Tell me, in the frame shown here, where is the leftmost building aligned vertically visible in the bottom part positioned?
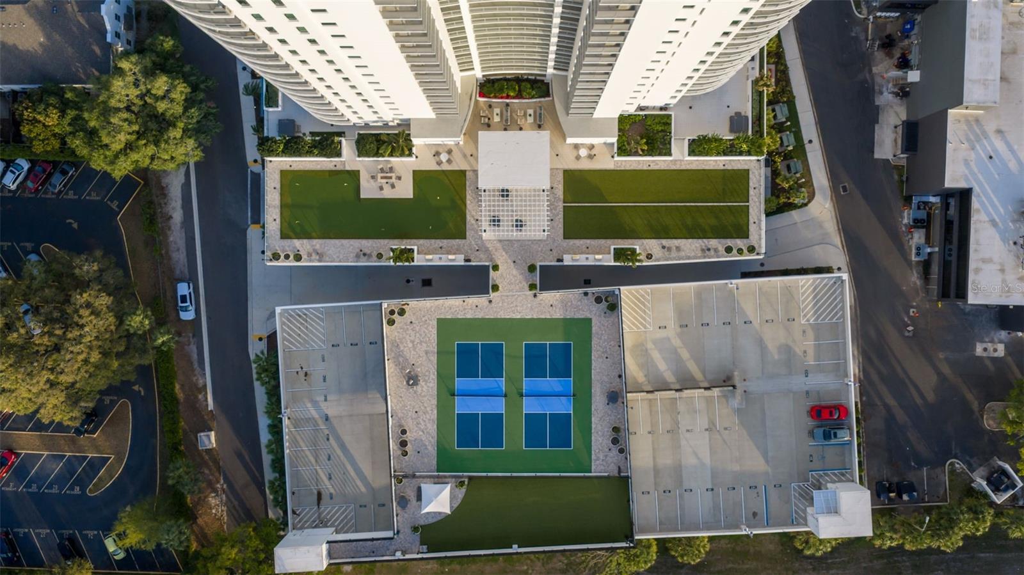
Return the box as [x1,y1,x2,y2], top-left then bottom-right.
[276,299,394,536]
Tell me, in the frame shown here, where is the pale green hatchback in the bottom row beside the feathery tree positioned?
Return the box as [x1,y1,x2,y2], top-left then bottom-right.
[103,530,129,563]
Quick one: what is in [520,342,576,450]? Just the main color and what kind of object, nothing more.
blue sports court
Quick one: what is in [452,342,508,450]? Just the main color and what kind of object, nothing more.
blue sports court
